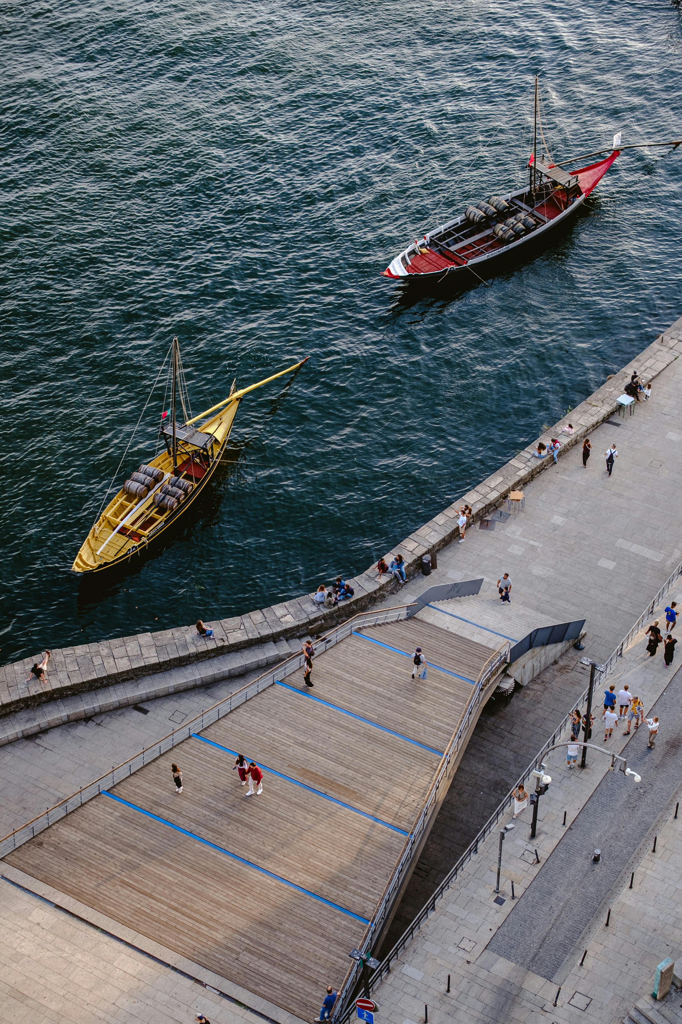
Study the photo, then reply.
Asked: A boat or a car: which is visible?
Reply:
boat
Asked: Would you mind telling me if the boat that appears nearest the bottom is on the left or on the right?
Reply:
left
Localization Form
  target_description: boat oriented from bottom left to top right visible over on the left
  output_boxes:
[67,335,313,579]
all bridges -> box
[0,614,504,1024]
